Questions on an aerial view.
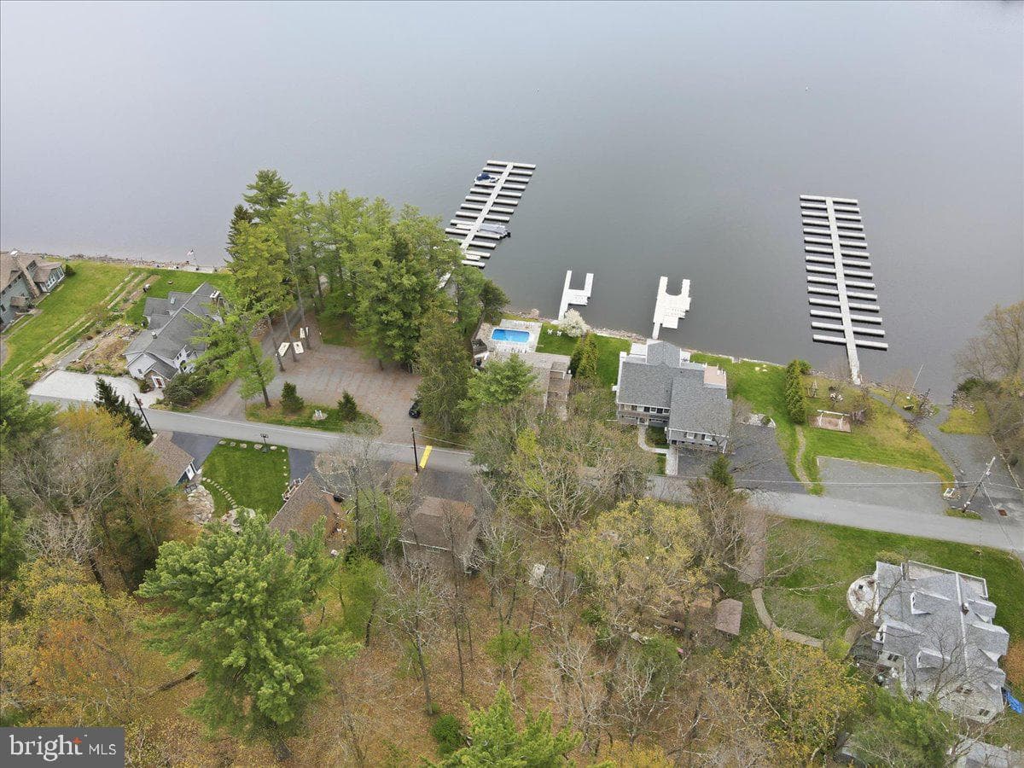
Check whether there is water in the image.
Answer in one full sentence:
Yes, some water is visible.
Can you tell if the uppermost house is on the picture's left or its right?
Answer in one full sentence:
It is on the left.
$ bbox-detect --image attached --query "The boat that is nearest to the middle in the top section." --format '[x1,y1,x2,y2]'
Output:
[479,224,511,236]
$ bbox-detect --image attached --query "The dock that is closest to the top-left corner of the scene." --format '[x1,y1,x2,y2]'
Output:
[440,158,537,285]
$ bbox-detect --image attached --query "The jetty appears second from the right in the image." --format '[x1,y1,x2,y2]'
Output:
[653,276,691,341]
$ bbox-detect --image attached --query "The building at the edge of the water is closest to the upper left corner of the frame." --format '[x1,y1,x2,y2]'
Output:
[0,245,70,329]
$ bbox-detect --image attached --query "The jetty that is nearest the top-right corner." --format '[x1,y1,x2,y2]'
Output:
[799,195,889,379]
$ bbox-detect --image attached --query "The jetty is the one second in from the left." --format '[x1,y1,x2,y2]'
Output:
[558,271,594,321]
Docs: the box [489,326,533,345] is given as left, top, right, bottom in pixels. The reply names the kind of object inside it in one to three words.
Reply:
swimming pool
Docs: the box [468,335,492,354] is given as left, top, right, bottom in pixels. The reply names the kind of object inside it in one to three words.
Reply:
gazebo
